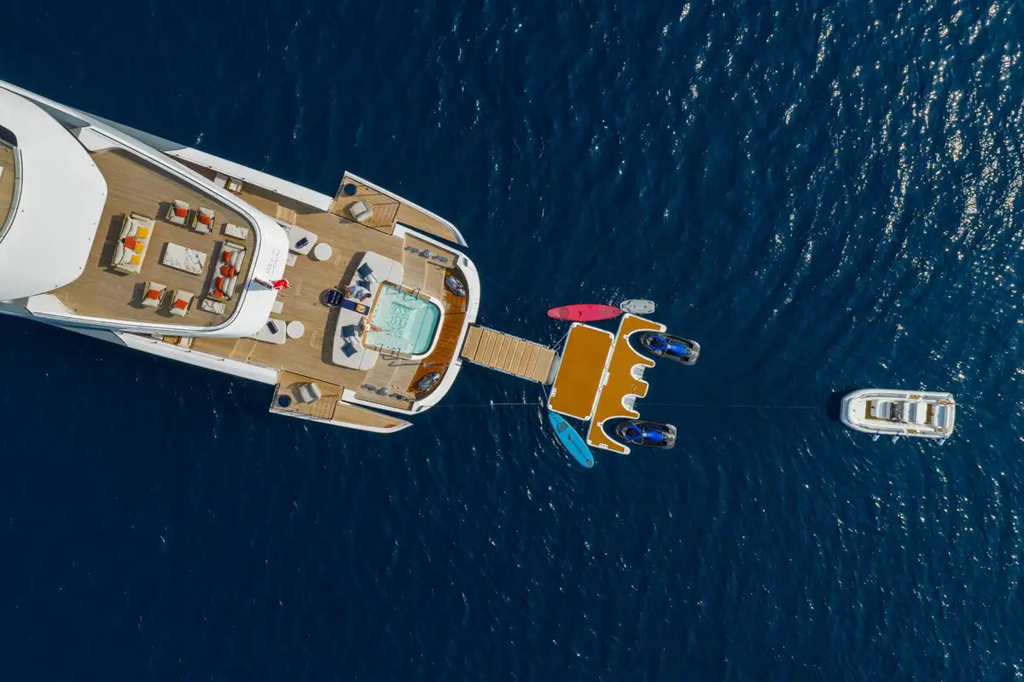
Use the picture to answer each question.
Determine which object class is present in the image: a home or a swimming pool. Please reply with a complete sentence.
There is a swimming pool in the scene.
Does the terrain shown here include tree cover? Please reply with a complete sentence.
No, the scene doesn't show any tree cover.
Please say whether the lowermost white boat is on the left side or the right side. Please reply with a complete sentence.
The lowermost white boat is on the right side of the image.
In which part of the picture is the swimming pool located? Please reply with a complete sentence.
The swimming pool appears toward the center of the photo.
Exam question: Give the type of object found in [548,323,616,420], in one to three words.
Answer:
pier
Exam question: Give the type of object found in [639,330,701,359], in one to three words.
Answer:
boat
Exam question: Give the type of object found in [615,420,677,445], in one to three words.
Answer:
boat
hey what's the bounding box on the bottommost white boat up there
[842,387,967,438]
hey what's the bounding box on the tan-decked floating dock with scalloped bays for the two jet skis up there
[587,313,666,454]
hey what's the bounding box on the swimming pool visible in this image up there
[362,280,445,360]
